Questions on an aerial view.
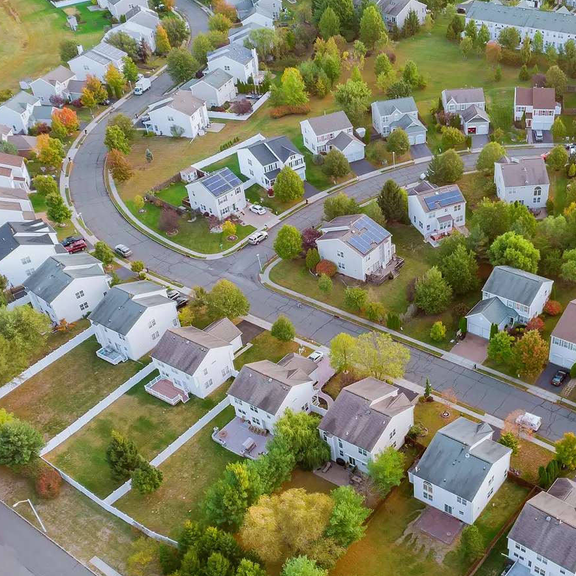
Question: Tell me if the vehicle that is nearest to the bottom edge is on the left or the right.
right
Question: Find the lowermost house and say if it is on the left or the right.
right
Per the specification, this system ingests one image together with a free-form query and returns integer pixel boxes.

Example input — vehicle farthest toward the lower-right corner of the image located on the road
[512,407,543,429]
